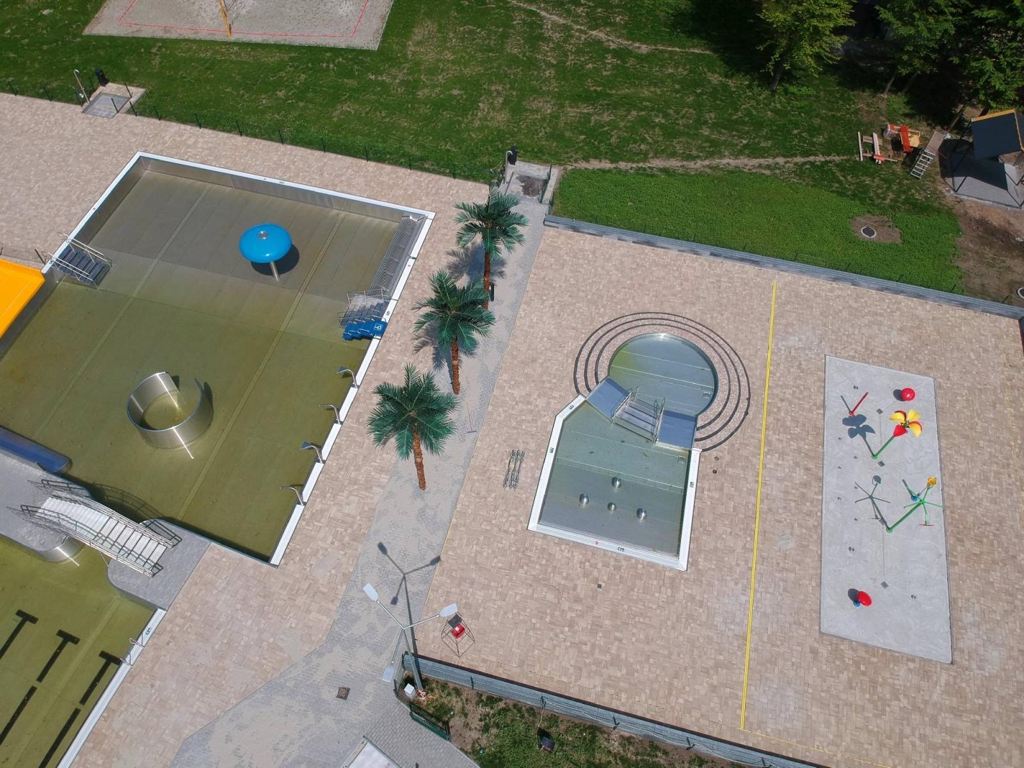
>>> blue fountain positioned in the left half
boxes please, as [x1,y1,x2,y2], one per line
[238,221,292,283]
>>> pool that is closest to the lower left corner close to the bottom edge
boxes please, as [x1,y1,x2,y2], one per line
[0,578,168,768]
